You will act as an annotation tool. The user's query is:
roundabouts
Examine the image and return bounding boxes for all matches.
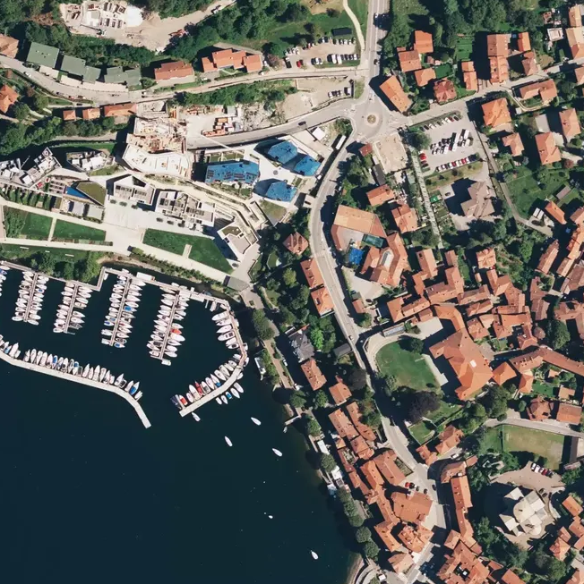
[351,99,392,138]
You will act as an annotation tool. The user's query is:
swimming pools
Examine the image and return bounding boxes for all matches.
[67,187,87,198]
[363,236,383,247]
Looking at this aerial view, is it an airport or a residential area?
residential area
